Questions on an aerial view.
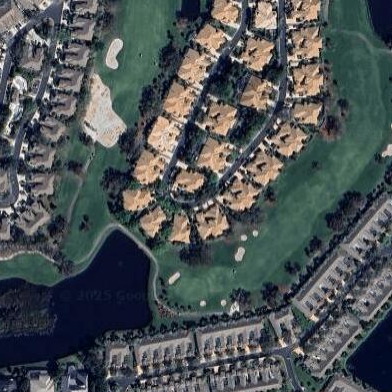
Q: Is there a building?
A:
Yes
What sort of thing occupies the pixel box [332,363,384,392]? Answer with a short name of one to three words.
house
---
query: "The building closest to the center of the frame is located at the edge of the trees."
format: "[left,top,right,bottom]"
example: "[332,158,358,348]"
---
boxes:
[175,165,202,197]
